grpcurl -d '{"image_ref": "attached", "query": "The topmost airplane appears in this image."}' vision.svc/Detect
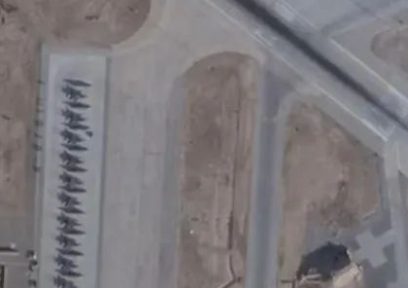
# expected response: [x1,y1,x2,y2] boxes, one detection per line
[67,87,88,99]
